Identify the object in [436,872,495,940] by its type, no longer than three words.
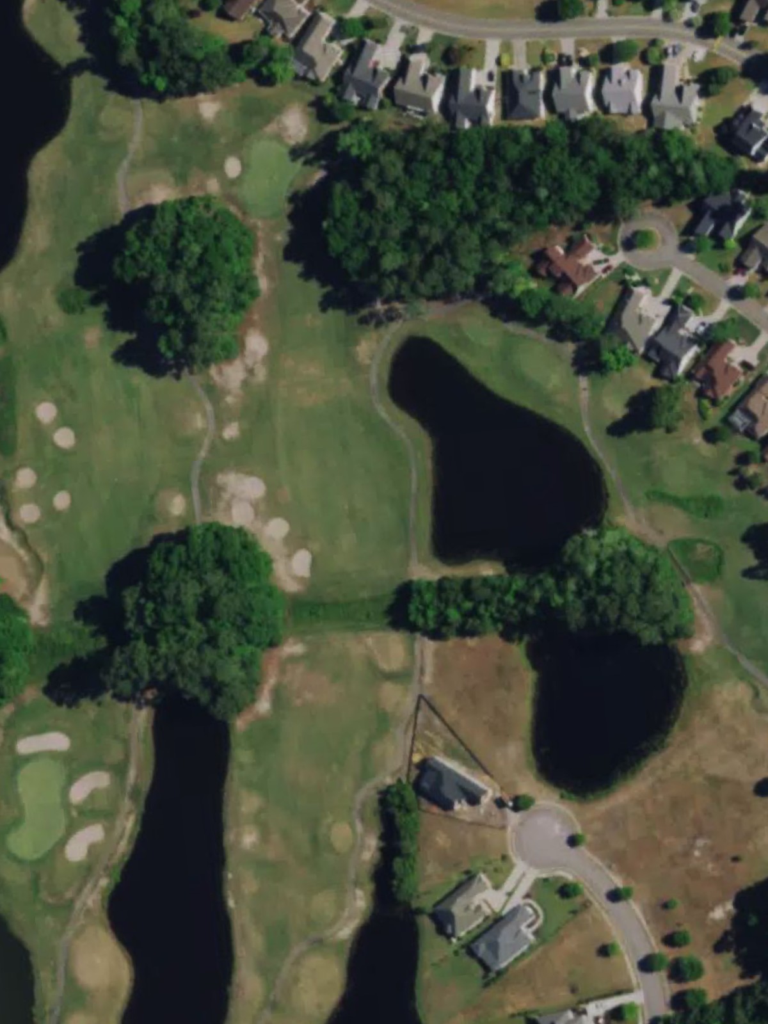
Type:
house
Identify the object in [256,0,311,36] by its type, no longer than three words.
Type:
house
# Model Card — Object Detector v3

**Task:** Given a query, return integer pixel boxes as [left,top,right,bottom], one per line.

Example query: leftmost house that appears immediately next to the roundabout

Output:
[543,233,598,298]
